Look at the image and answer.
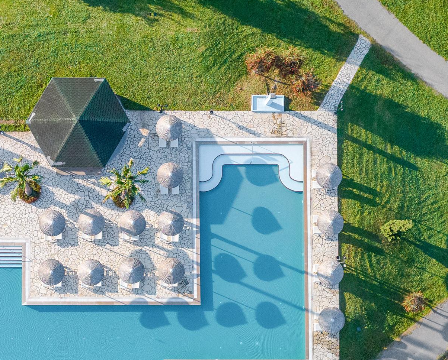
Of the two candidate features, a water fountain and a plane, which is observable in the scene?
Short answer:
water fountain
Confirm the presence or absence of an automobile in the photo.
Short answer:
No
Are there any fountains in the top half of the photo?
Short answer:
Yes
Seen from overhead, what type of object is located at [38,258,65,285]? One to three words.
umbrella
